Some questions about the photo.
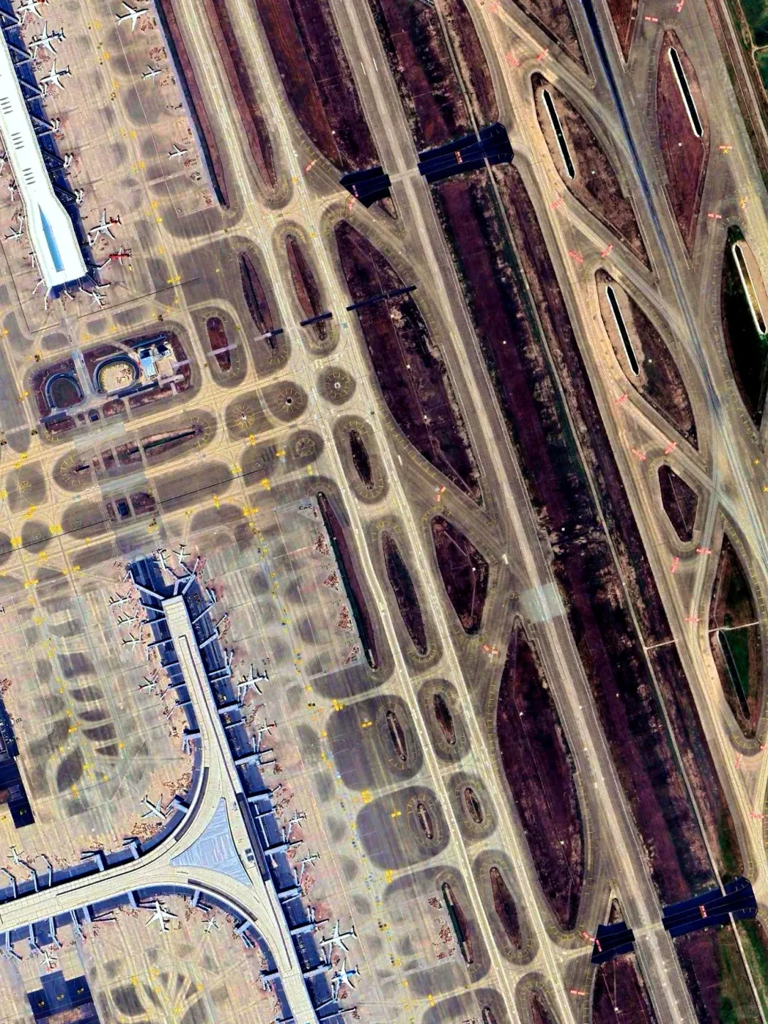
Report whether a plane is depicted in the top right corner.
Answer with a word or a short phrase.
No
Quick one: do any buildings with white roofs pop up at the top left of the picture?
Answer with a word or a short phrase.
Yes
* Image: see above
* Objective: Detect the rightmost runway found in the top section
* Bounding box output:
[567,0,768,565]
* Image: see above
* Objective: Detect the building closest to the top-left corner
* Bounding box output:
[0,30,87,287]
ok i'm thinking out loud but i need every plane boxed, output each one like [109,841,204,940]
[40,60,72,90]
[114,2,148,31]
[117,614,135,631]
[201,917,217,934]
[17,0,48,18]
[90,291,106,309]
[109,595,129,612]
[167,146,187,163]
[152,550,170,570]
[146,901,177,935]
[172,546,190,563]
[301,851,320,867]
[332,962,361,992]
[90,211,121,241]
[39,952,56,971]
[141,67,161,84]
[139,795,165,819]
[5,847,22,863]
[5,228,23,245]
[109,246,130,265]
[321,925,356,956]
[138,679,157,696]
[28,23,65,55]
[289,811,307,828]
[237,666,269,697]
[259,719,276,736]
